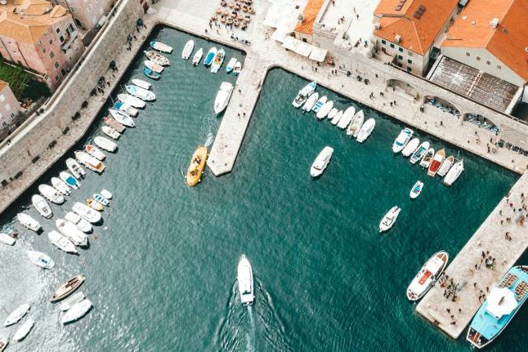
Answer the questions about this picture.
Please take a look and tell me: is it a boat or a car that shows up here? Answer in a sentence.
Of the two, only a boat appears.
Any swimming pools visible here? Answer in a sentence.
No, this view has no swimming pool in it.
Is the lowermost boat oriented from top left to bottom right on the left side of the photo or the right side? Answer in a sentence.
You can find the lowermost boat oriented from top left to bottom right on the left side of the picture.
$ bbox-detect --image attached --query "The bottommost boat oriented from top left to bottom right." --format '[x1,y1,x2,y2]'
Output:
[25,248,54,268]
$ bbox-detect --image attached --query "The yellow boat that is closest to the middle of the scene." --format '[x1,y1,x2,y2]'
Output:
[186,146,210,188]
